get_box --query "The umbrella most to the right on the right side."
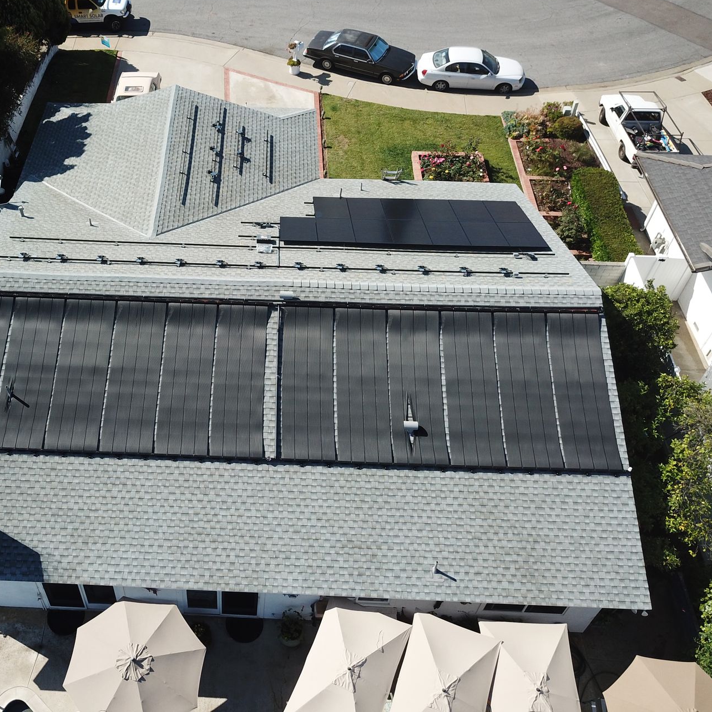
[603,655,712,712]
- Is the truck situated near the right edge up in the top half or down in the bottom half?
top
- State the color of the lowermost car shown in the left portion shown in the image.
white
